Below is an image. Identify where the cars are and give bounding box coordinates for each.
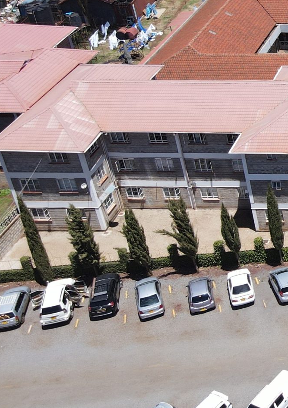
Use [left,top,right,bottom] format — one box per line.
[243,368,288,408]
[131,271,166,322]
[187,386,235,408]
[0,281,39,327]
[268,264,288,303]
[87,269,129,319]
[224,264,255,308]
[184,272,215,314]
[36,273,91,326]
